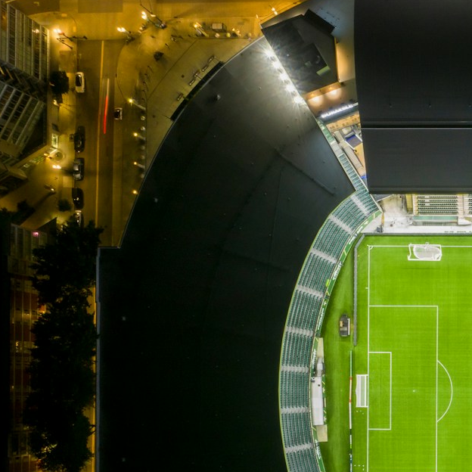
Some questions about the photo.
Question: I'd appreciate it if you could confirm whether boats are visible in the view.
No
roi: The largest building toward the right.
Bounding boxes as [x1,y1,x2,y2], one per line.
[263,9,353,98]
